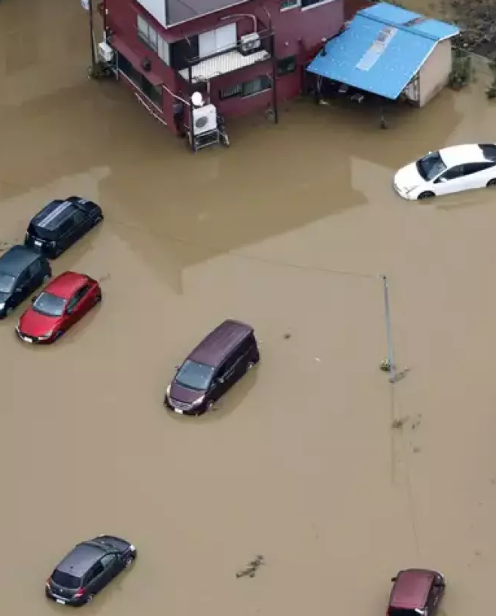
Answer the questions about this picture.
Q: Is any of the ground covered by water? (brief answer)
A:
Yes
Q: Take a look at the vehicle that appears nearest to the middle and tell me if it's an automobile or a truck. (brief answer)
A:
automobile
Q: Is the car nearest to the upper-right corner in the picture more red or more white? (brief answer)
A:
white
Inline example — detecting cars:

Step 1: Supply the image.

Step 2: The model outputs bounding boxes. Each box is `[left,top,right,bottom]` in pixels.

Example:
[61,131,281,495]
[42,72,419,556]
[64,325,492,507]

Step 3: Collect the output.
[391,140,496,197]
[20,190,106,257]
[43,531,135,607]
[0,240,52,316]
[395,569,451,616]
[14,263,103,343]
[163,317,261,415]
